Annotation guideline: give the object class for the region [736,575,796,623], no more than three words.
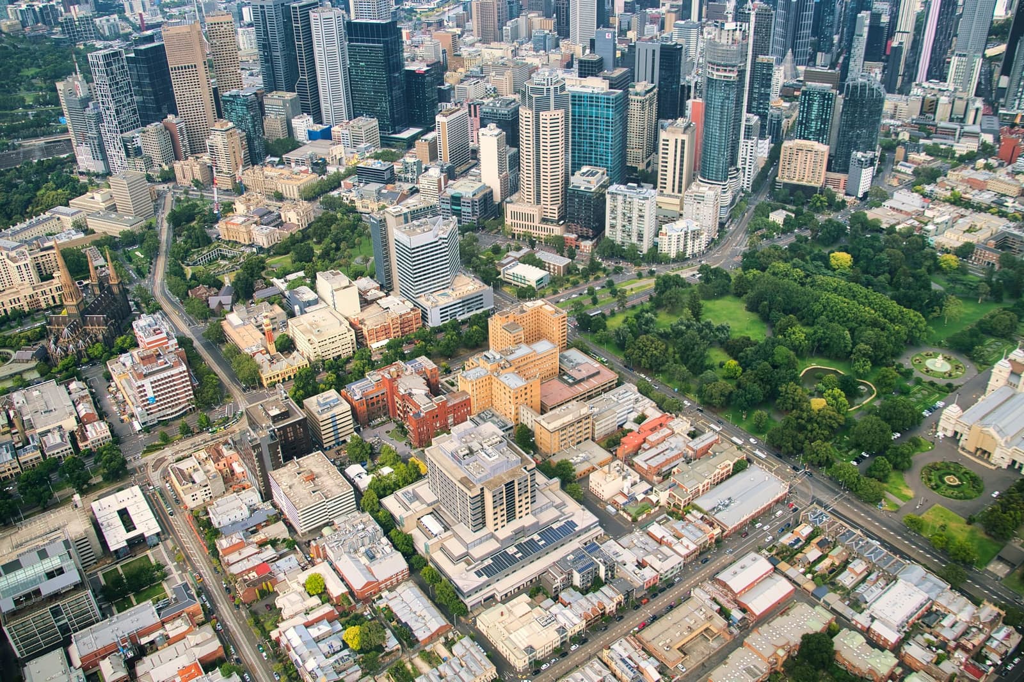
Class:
shed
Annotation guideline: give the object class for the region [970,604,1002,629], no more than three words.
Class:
house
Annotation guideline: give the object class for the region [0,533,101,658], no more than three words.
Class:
building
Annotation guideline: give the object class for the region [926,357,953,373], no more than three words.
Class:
fountain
